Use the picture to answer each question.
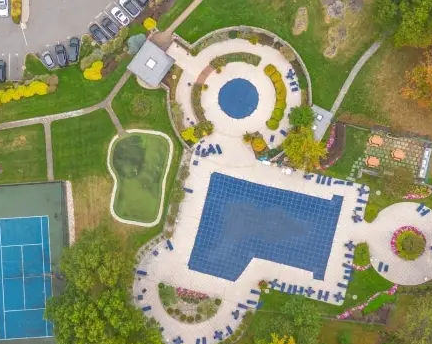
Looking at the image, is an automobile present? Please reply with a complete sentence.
Yes, there is an automobile in the image.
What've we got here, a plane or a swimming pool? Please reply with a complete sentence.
The one in the frame is a swimming pool.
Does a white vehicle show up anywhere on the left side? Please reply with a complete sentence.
Yes, you'll find a white vehicle on the left side.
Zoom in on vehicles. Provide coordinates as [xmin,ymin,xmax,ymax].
[0,0,9,19]
[41,50,55,70]
[0,59,8,84]
[119,0,143,20]
[54,44,69,70]
[88,22,109,46]
[109,5,131,27]
[134,0,153,11]
[69,38,81,64]
[100,15,120,37]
